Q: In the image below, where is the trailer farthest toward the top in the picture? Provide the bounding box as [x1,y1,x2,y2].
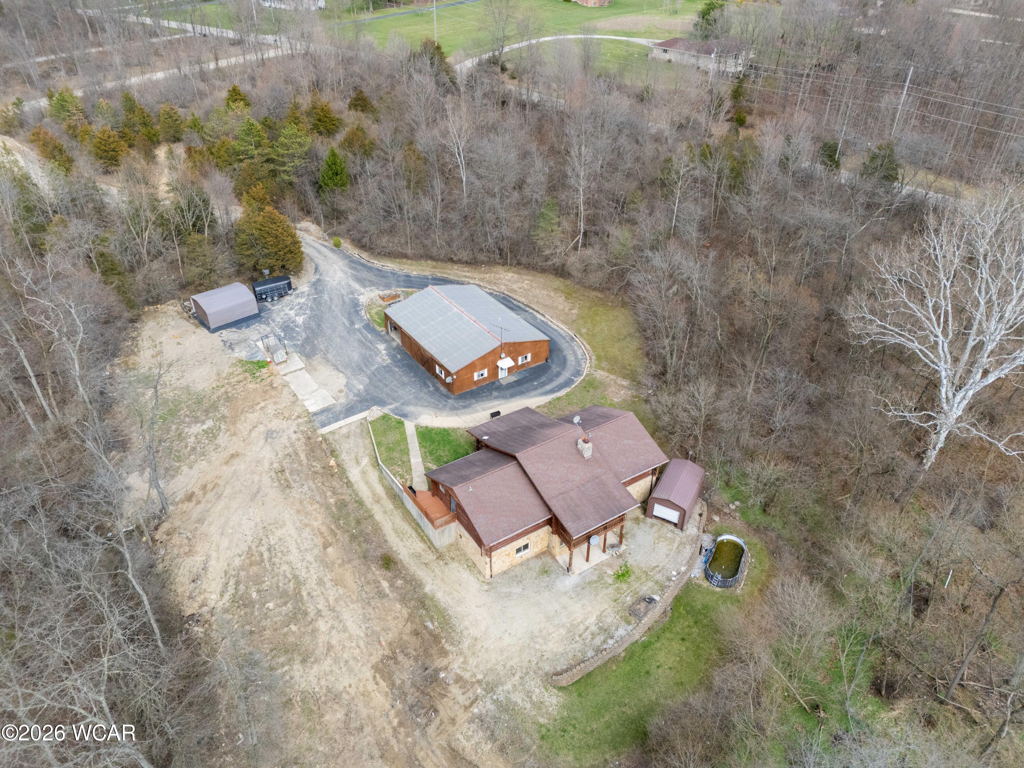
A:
[250,276,294,301]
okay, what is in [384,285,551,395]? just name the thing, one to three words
building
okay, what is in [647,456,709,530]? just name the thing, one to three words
building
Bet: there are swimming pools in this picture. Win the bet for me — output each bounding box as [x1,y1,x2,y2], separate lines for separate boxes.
[703,533,751,589]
